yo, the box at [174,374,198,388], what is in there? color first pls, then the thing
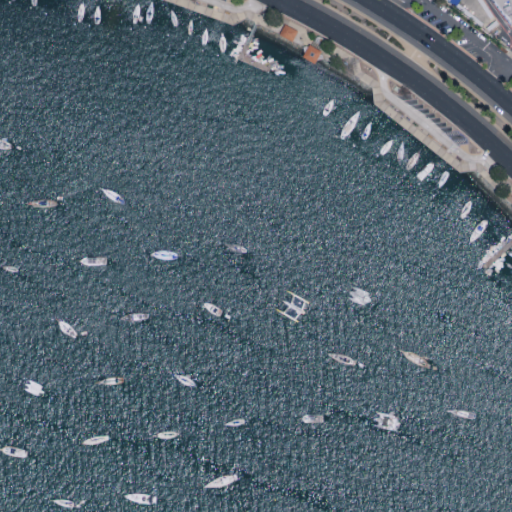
white boat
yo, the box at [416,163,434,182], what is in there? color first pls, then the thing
white boat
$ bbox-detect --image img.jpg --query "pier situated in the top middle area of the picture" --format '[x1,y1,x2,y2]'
[240,24,270,73]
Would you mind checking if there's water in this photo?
Yes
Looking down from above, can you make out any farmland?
No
